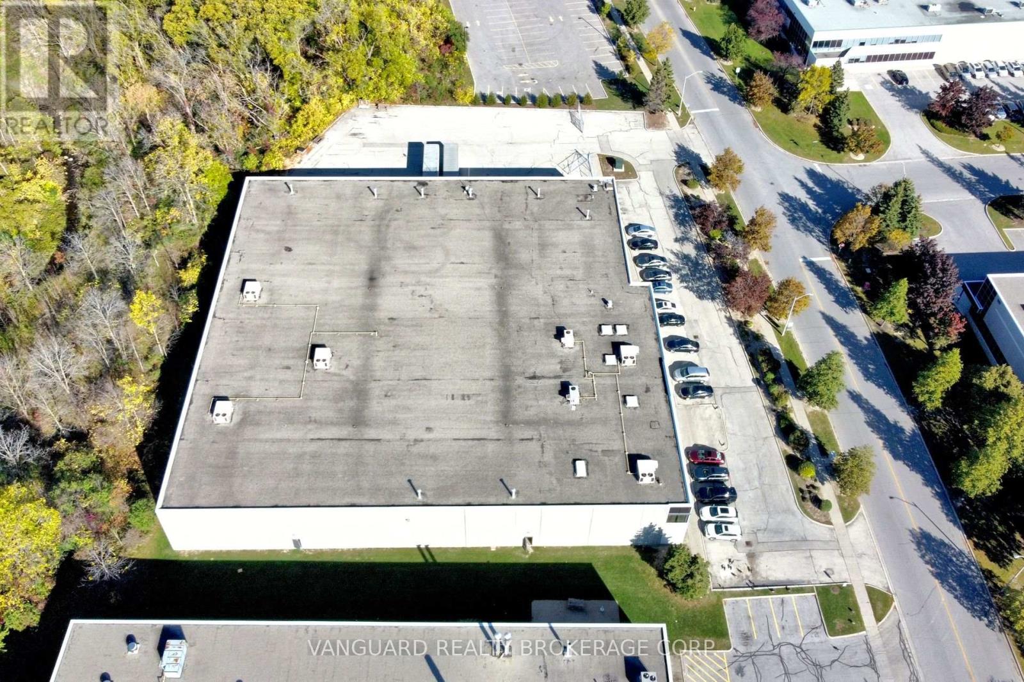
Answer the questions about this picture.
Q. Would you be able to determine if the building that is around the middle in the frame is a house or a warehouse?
warehouse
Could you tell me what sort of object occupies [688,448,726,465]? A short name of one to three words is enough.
car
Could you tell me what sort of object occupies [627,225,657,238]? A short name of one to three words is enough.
vehicle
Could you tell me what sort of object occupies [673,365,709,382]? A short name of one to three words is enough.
car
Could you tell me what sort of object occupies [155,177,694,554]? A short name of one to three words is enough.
warehouse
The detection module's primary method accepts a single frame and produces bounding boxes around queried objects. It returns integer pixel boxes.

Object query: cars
[889,69,908,84]
[665,338,699,354]
[642,268,673,282]
[673,365,709,382]
[699,503,739,523]
[629,237,658,251]
[968,62,986,77]
[678,383,714,399]
[644,281,676,295]
[658,311,688,328]
[697,483,737,503]
[992,60,1010,75]
[656,299,680,313]
[954,62,972,78]
[635,253,666,268]
[936,63,955,80]
[1005,58,1024,75]
[981,61,998,76]
[704,521,743,541]
[627,225,657,238]
[692,464,731,483]
[688,448,726,465]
